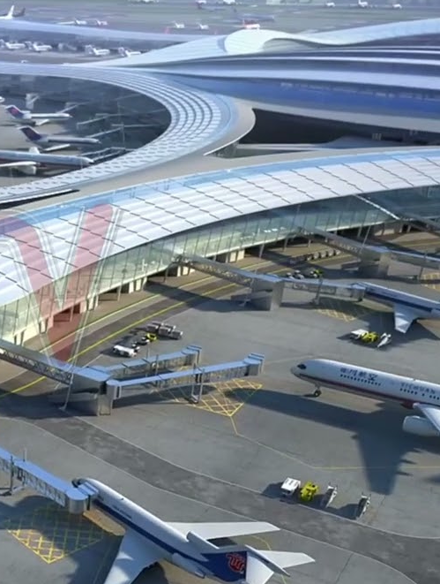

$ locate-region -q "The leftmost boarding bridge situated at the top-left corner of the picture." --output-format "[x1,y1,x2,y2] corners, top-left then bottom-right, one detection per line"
[28,91,45,114]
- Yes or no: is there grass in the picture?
No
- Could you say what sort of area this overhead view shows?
airport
